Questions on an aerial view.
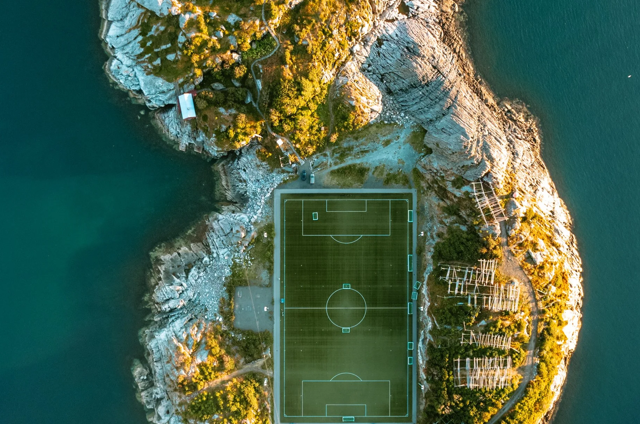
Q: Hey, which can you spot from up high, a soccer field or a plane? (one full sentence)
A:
It is a soccer field that can be seen here.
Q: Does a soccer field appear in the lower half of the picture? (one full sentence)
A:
Yes, looking in the lower half of the picture, one can make out a soccer field.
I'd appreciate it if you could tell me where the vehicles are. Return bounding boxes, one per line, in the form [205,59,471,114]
[310,173,315,184]
[301,170,307,180]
